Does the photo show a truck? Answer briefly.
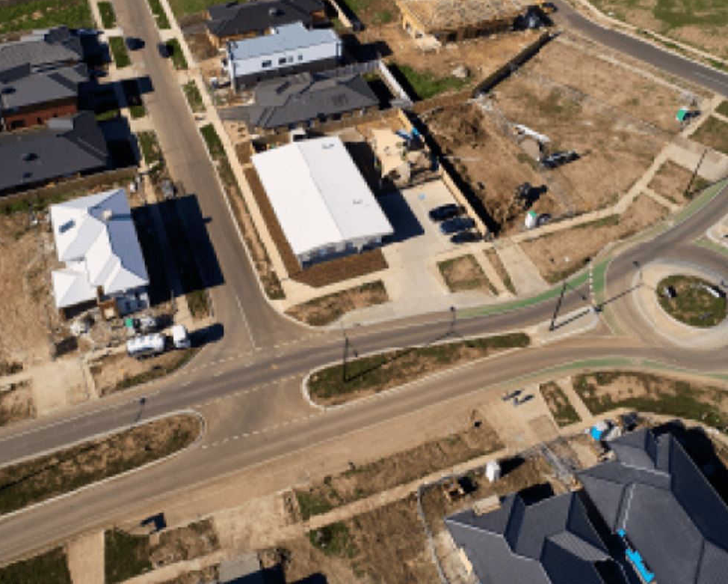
Yes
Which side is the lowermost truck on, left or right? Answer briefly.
left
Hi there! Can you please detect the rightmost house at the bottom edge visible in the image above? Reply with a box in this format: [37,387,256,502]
[575,431,728,584]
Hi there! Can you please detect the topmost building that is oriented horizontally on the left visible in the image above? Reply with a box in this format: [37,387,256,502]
[203,0,326,44]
